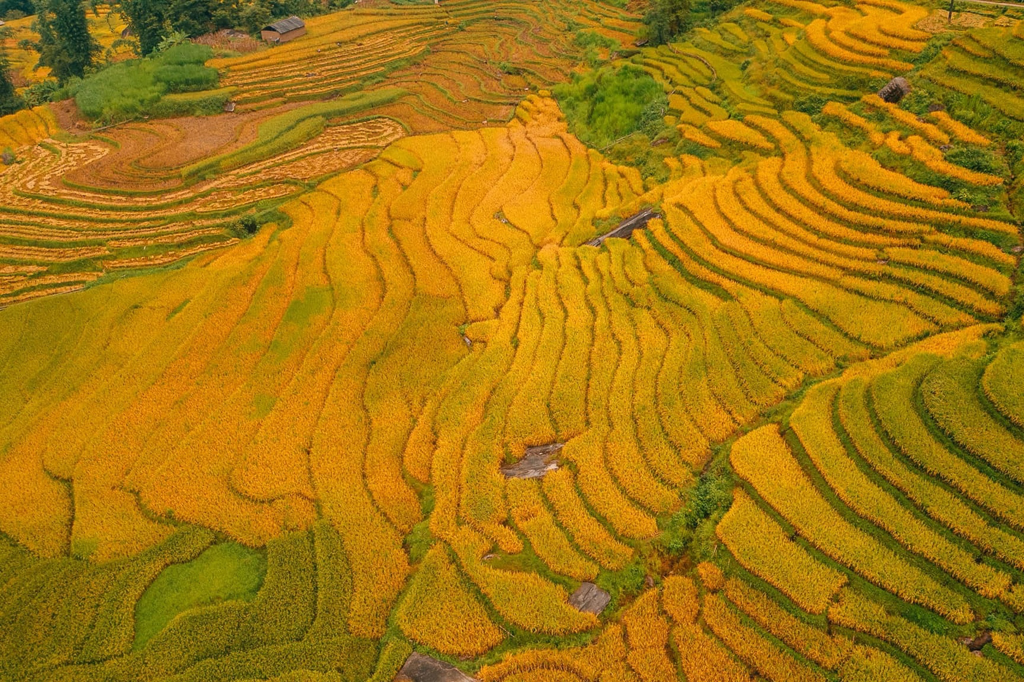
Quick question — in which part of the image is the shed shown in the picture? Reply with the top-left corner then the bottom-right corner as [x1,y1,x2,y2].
[261,15,309,44]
